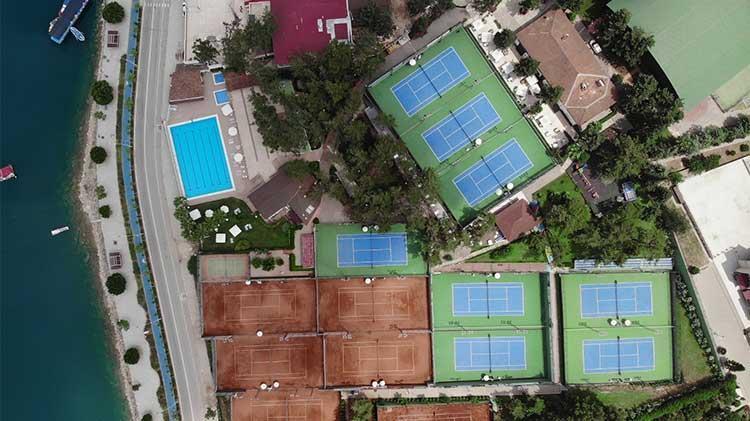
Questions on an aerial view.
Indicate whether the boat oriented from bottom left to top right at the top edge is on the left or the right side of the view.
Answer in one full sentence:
It is on the left.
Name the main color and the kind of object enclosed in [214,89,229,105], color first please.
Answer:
blue swimming pool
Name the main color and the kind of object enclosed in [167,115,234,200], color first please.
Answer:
blue swimming pool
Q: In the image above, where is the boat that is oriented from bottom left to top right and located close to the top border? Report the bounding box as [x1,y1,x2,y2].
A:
[48,0,97,49]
